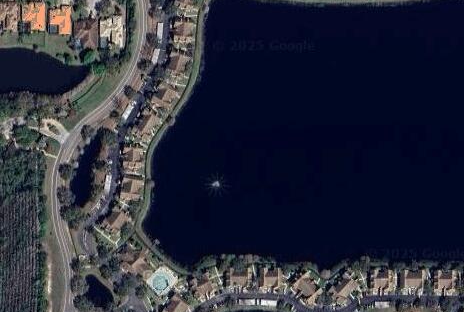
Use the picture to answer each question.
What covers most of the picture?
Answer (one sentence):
For the most part, this view shows water.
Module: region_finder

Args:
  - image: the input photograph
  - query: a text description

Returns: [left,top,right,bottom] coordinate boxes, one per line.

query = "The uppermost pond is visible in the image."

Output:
[0,45,89,94]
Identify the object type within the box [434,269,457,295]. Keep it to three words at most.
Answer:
house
